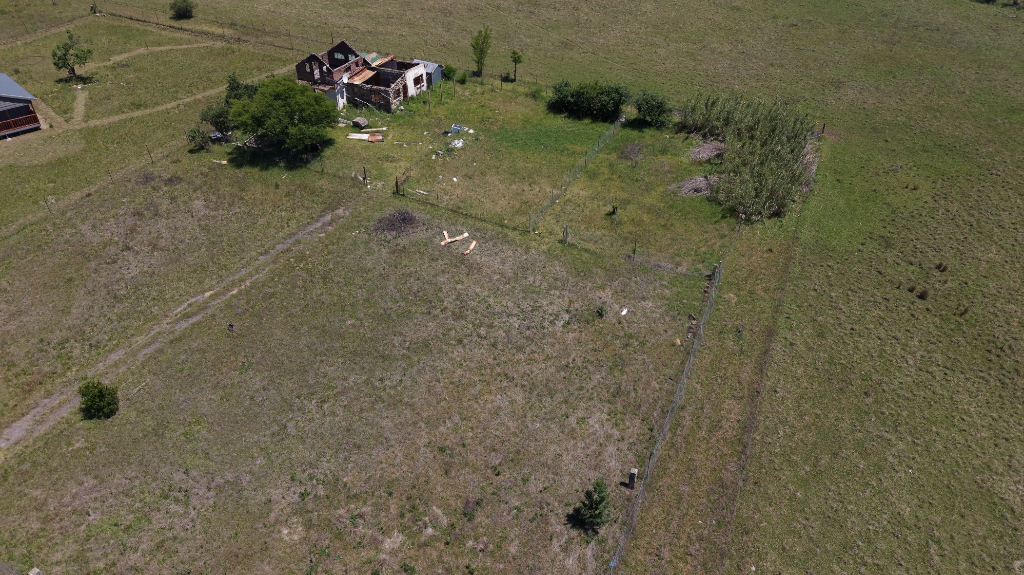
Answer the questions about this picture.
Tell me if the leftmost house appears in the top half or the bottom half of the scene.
top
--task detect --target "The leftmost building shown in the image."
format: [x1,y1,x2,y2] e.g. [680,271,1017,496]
[0,77,41,135]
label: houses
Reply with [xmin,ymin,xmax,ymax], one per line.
[0,77,41,135]
[290,39,426,113]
